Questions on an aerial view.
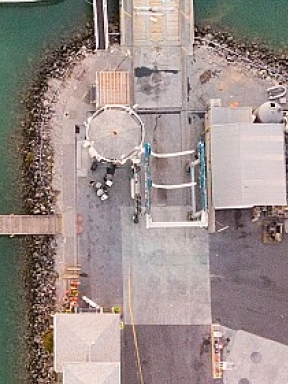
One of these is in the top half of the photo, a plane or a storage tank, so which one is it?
storage tank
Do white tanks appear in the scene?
Yes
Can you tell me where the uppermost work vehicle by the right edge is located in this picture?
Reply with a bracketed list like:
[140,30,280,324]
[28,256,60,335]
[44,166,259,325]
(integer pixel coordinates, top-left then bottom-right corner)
[259,219,284,244]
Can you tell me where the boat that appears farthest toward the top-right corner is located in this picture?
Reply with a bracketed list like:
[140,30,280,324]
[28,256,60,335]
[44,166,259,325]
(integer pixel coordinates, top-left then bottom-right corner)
[268,86,286,98]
